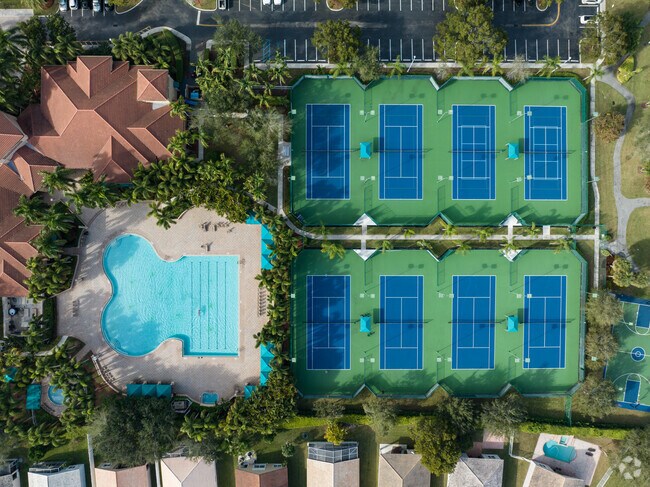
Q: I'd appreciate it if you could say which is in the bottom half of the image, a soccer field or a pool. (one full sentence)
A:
What appears in the bottom half of the image is a pool.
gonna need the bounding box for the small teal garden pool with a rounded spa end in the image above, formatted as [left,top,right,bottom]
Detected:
[542,439,579,464]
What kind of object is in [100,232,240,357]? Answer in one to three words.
swimming pool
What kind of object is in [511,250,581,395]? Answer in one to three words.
tennis court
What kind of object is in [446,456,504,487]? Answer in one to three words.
house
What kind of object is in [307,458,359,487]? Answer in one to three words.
house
